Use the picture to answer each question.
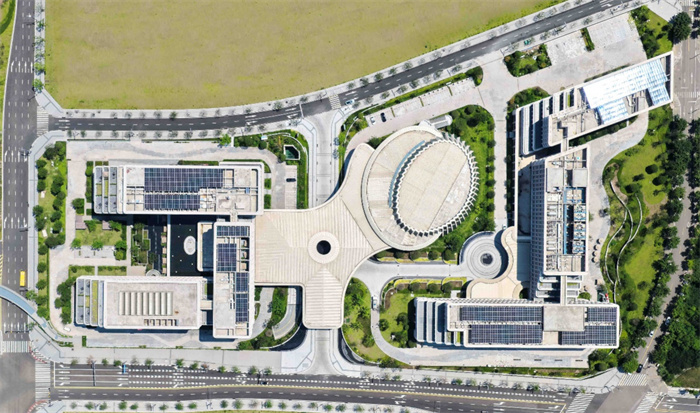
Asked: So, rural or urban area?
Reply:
urban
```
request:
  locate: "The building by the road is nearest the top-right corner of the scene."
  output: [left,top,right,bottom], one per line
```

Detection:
[510,52,672,156]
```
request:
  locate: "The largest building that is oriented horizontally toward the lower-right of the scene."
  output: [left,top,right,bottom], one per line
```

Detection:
[414,295,619,348]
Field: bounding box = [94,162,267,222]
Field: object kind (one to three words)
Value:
building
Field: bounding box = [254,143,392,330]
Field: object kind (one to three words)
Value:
building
